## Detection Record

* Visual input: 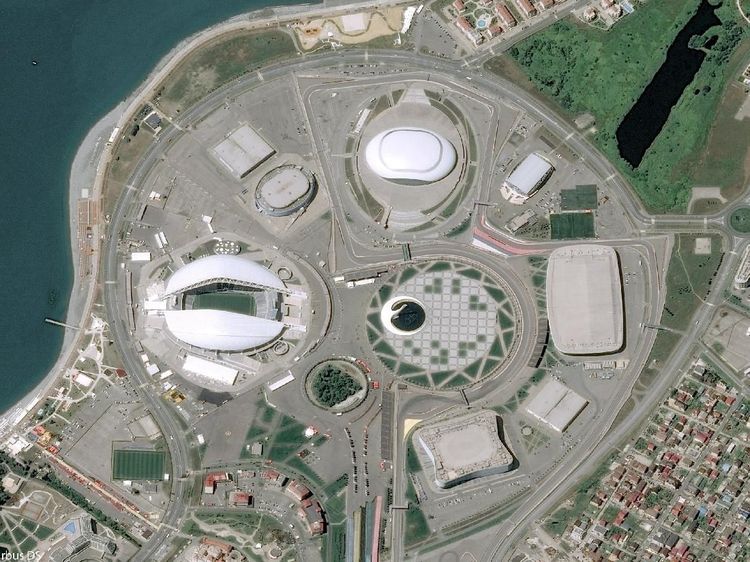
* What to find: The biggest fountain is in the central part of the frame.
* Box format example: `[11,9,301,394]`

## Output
[382,296,426,335]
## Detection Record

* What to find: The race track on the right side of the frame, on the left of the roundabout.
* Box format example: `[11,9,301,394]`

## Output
[301,73,663,562]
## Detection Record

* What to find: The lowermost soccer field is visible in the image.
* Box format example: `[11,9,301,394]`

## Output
[110,441,164,481]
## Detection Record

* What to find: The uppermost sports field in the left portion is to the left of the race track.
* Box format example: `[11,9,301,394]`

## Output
[193,295,256,315]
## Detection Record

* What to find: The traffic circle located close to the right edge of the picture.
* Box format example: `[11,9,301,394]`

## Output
[719,198,750,242]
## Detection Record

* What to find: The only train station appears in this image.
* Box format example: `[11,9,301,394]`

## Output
[346,496,382,562]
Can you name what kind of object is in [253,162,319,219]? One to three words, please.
stadium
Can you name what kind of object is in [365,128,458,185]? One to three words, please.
stadium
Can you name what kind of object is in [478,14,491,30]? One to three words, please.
swimming pool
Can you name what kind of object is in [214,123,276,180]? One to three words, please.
building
